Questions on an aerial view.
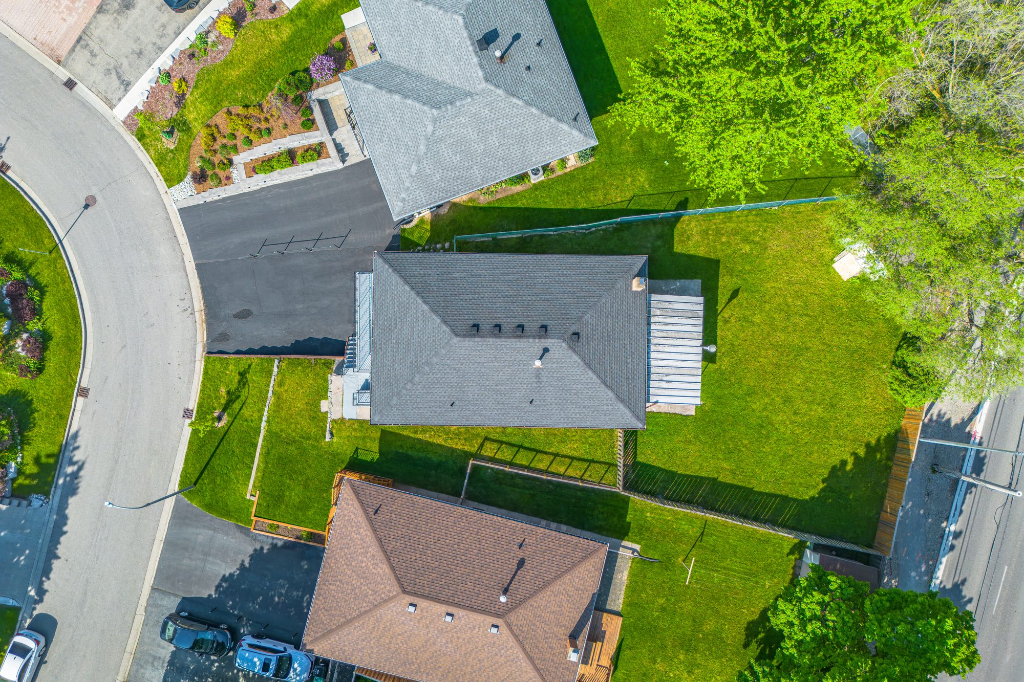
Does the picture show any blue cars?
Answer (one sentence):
Yes, there's a blue car here.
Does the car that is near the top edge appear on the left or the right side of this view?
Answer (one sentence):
You can find the car that is near the top edge on the left side of the picture.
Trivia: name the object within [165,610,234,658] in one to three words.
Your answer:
car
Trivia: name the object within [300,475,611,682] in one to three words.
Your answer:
house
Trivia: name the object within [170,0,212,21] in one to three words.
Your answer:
car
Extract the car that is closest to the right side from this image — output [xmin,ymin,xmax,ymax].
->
[238,633,314,682]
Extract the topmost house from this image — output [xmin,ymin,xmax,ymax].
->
[338,0,600,223]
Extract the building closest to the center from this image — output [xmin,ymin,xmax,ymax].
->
[368,250,650,431]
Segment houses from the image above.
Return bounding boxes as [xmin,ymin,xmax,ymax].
[368,250,650,431]
[338,0,600,223]
[300,475,611,682]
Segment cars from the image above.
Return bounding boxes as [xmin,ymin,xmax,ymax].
[165,610,234,658]
[0,631,46,682]
[238,633,314,682]
[170,0,212,21]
